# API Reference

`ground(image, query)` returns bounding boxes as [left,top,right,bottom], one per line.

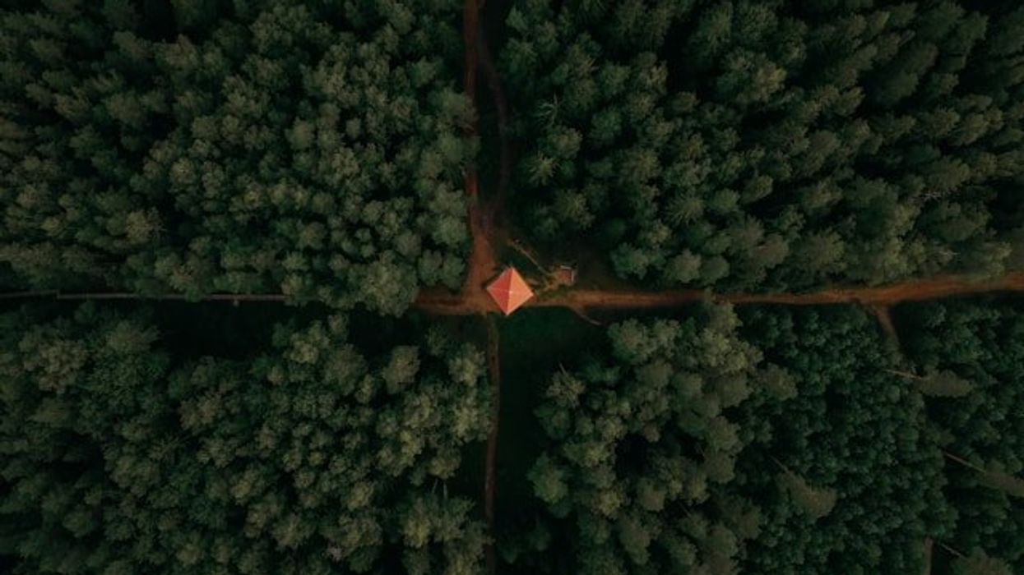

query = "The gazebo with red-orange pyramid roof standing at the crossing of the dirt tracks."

[487,267,533,315]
